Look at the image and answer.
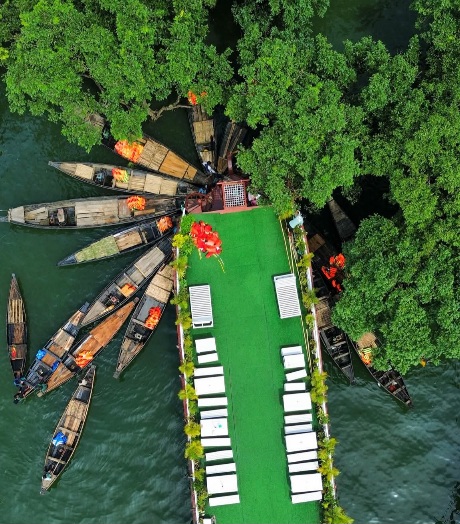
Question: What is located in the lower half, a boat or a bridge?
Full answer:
Looking in the lower half, you will find a boat.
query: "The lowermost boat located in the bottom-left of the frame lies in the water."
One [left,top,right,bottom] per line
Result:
[37,363,98,497]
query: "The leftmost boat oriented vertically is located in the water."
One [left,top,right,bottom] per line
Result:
[6,271,29,388]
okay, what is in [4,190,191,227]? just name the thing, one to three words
boat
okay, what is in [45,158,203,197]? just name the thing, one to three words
boat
